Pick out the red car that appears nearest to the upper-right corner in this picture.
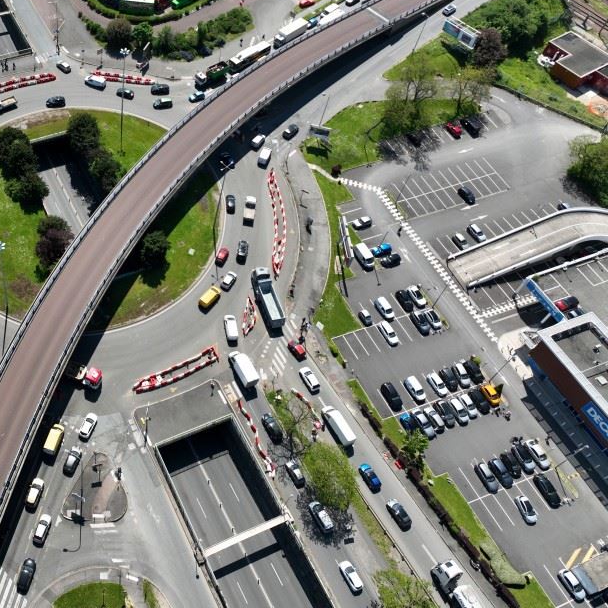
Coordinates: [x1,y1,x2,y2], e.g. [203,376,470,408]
[444,124,462,139]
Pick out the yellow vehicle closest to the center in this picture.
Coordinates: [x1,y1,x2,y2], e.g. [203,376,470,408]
[199,288,220,308]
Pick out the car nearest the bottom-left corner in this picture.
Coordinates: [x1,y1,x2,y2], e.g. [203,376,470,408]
[17,558,36,594]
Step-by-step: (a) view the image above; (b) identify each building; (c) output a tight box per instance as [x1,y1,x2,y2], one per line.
[499,312,608,560]
[541,31,608,91]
